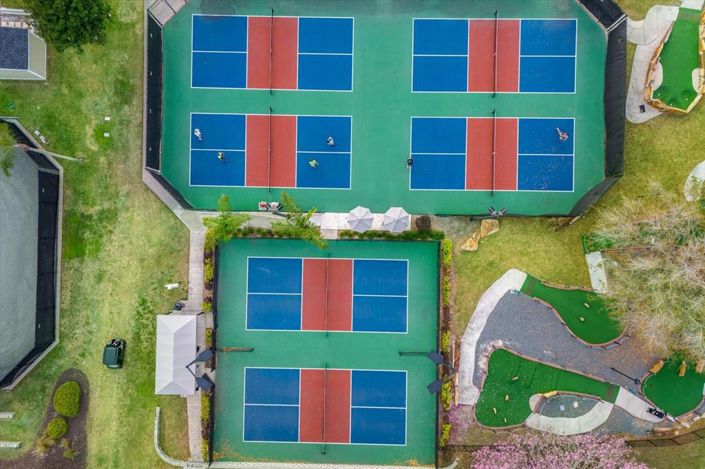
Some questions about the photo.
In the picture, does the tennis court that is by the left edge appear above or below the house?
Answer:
below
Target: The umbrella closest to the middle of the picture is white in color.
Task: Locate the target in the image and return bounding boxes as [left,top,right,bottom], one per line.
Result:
[346,205,375,234]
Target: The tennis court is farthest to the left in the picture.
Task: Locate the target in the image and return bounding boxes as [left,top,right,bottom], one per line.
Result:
[0,121,56,375]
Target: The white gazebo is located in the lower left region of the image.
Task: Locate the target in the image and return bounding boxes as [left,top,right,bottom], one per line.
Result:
[155,312,204,394]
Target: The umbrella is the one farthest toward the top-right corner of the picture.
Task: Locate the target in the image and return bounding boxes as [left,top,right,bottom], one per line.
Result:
[382,205,410,233]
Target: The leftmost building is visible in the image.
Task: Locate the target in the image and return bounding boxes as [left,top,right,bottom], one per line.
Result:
[0,3,48,80]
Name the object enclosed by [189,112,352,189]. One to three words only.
sports court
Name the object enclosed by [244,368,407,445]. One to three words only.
sports court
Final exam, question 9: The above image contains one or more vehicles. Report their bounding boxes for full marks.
[103,335,127,368]
[647,406,669,421]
